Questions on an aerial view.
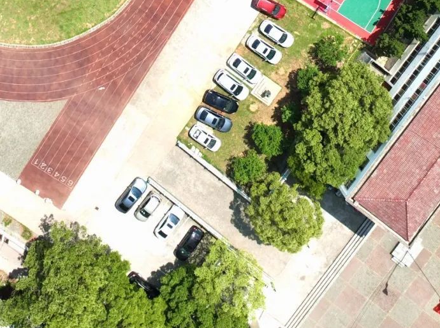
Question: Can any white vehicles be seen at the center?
Yes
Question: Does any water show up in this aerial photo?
No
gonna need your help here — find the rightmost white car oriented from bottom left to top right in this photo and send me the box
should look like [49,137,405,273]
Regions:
[153,202,184,242]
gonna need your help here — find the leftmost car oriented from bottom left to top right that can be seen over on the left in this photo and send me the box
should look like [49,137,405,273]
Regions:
[116,176,147,214]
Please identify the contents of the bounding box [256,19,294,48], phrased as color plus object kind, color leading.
white car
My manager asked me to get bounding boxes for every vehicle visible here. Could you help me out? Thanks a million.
[256,19,294,48]
[244,35,282,63]
[116,176,147,214]
[201,87,239,115]
[153,202,184,242]
[127,268,161,297]
[194,104,232,132]
[212,68,249,99]
[173,224,204,263]
[185,123,224,151]
[135,188,164,223]
[225,54,262,83]
[249,0,287,20]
